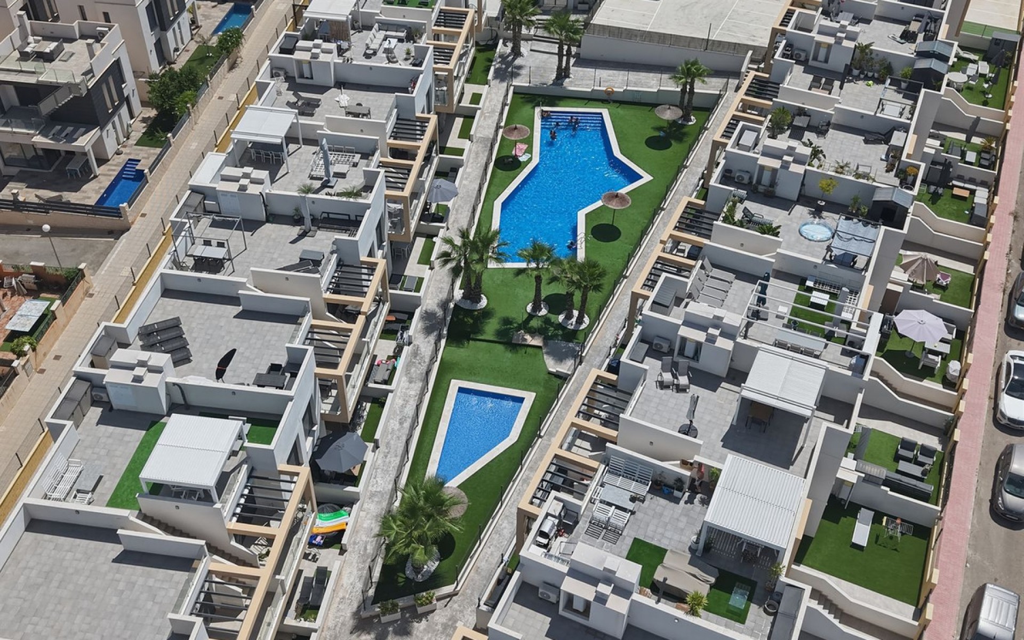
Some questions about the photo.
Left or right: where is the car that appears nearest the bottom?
right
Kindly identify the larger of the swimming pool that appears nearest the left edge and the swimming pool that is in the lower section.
the swimming pool that is in the lower section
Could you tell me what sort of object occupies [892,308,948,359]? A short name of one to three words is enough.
umbrella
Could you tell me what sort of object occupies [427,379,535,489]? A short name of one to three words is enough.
swimming pool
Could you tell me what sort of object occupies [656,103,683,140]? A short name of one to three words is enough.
umbrella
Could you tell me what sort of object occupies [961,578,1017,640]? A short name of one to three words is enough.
car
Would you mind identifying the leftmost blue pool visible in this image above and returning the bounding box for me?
[94,159,151,208]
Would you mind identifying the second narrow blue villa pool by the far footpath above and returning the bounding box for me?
[215,3,253,33]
